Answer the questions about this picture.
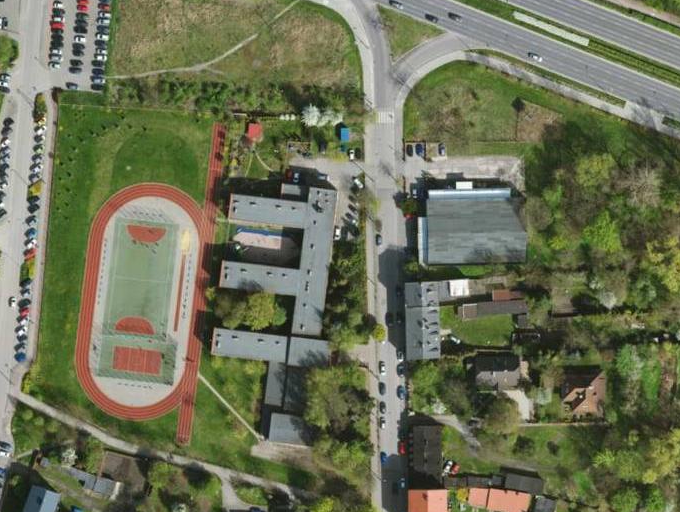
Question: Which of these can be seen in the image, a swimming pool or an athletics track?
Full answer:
Visible in the photo is an athletics track.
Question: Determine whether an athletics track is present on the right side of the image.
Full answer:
No, looking on the right side of the image, there is no athletics track.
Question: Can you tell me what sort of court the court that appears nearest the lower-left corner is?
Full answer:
What you see as the court that appears nearest the lower-left corner is a basketball court.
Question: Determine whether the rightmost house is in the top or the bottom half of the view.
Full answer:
Seen from above, the rightmost house lies in the bottom half of the view.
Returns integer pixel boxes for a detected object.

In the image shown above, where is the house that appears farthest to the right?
[561,365,605,420]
